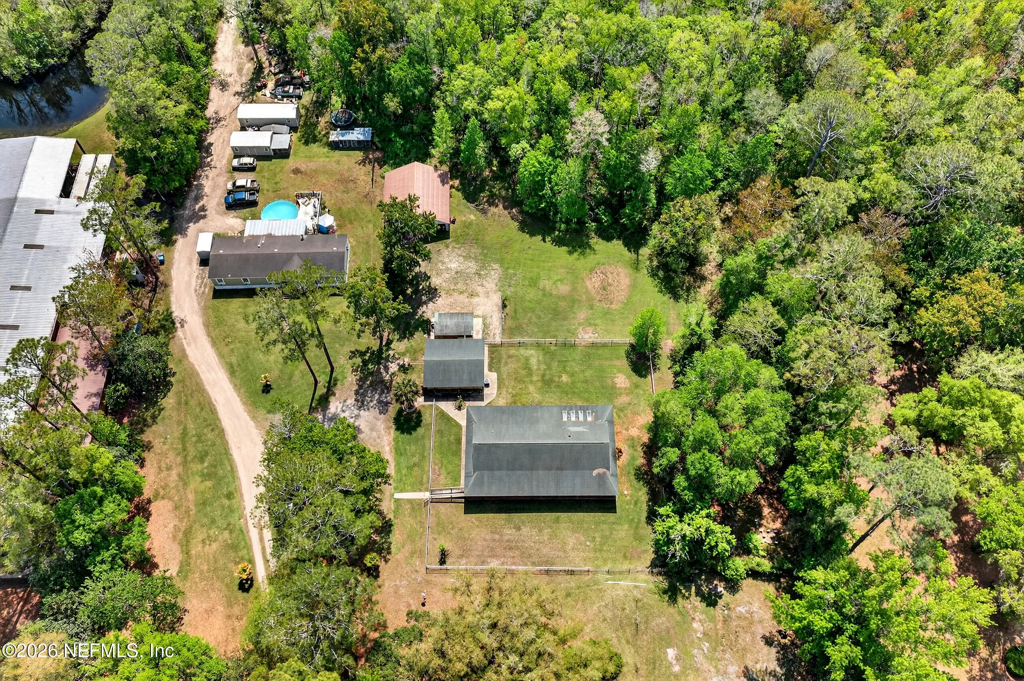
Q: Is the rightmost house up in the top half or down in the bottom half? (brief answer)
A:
bottom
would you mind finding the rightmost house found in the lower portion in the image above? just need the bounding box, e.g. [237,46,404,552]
[464,406,618,500]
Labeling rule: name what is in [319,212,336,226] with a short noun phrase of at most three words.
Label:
umbrella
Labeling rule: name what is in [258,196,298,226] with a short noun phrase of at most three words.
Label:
swimming pool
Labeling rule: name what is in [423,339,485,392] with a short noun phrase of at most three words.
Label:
house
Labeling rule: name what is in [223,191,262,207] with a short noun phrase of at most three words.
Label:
vehicle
